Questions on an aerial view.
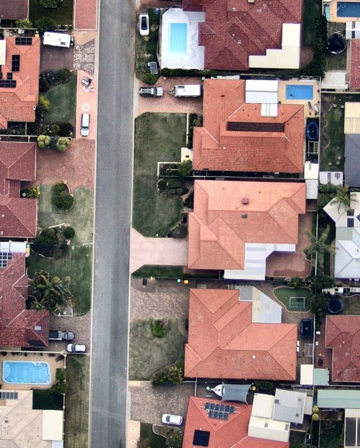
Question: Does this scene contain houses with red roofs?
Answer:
Yes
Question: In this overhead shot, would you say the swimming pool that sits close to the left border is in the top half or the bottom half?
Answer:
bottom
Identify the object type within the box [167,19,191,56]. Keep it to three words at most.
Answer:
swimming pool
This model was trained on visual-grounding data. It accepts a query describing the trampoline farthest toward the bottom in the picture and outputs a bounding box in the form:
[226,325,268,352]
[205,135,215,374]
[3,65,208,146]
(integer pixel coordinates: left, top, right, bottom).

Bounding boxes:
[301,318,314,338]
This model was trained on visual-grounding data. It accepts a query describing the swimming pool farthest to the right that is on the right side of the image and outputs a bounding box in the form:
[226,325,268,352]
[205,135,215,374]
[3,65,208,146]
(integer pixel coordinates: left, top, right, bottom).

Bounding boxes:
[332,0,360,19]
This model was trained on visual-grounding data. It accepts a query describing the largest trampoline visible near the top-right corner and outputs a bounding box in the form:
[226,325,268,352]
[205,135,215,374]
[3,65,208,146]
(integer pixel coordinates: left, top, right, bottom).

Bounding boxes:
[329,32,346,52]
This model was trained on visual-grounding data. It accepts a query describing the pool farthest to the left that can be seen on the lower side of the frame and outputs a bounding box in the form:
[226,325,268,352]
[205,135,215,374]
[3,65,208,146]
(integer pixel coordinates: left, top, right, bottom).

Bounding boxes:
[1,359,52,385]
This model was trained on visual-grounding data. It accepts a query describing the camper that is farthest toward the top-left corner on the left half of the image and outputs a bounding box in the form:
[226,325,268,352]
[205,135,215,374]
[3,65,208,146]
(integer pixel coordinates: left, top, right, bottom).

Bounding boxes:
[43,31,75,46]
